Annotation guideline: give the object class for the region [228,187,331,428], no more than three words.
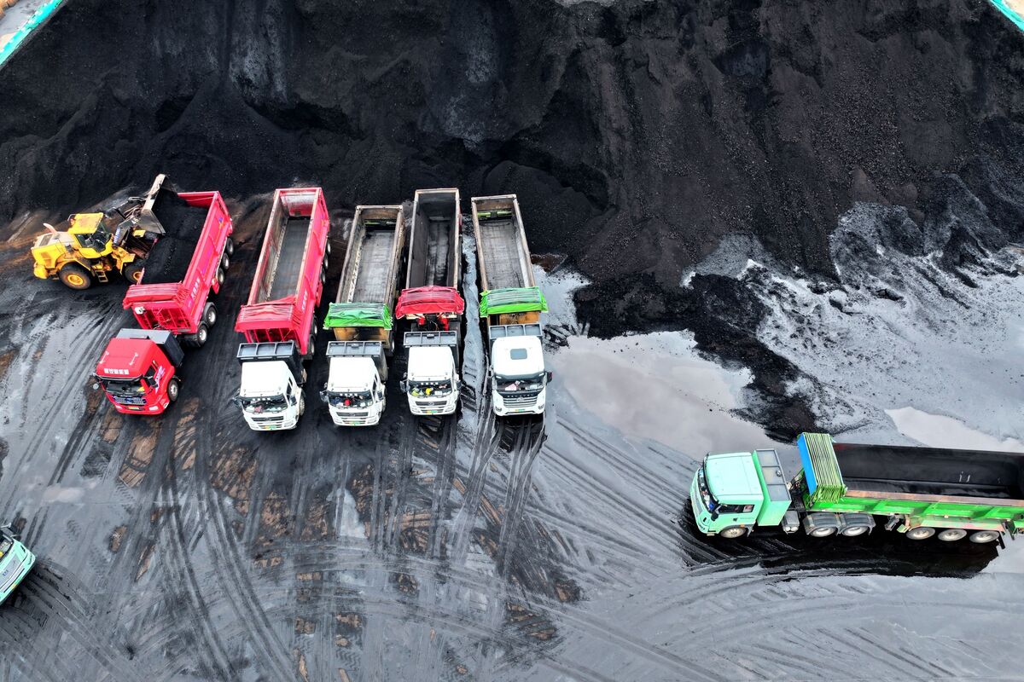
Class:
truck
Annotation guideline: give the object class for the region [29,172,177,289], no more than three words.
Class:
work vehicle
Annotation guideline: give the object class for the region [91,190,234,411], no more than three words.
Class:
truck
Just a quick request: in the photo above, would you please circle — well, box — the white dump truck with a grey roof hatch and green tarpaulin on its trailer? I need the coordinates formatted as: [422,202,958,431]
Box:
[471,194,555,414]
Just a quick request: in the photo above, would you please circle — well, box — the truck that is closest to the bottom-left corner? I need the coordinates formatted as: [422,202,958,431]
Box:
[0,528,36,610]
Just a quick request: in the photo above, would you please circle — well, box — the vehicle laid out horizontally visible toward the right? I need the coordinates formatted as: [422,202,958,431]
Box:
[693,435,1024,543]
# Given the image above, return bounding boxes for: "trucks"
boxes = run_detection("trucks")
[471,194,555,414]
[395,188,465,414]
[91,190,234,411]
[228,187,331,428]
[693,435,1024,543]
[315,205,407,425]
[0,528,36,610]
